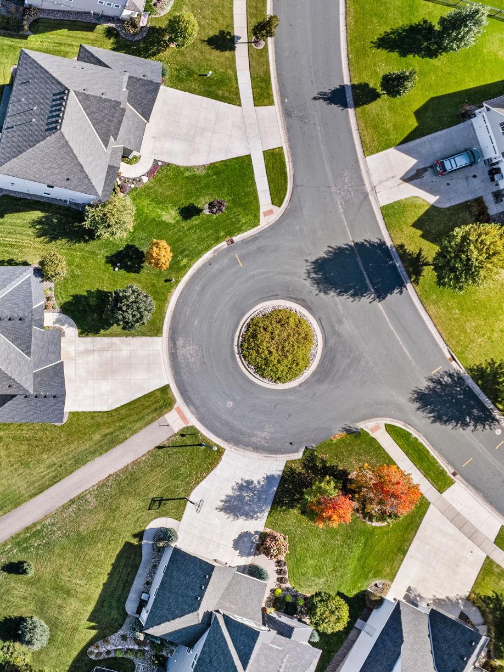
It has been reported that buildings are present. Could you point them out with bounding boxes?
[0,44,161,200]
[0,267,66,423]
[470,96,504,198]
[345,598,490,672]
[141,546,322,672]
[0,0,146,25]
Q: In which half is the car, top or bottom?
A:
top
